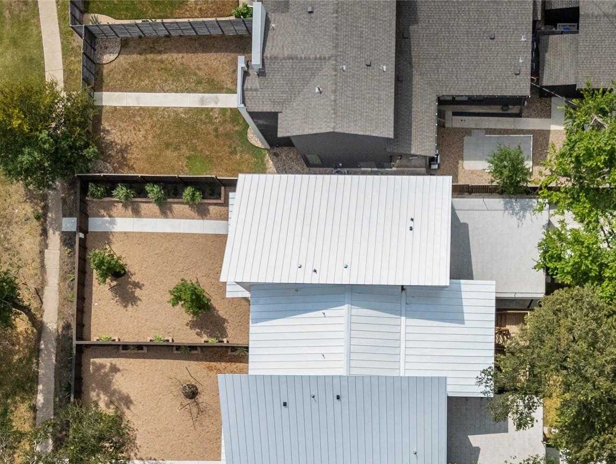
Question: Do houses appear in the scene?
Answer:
Yes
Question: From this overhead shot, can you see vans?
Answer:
No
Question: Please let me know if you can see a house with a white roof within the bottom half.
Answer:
Yes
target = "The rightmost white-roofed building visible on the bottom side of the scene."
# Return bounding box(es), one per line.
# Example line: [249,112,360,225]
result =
[219,174,493,464]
